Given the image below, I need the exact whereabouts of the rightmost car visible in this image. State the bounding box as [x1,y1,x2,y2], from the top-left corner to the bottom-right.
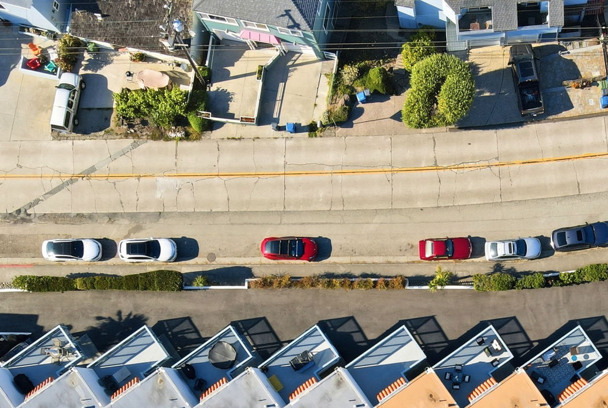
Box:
[551,221,608,253]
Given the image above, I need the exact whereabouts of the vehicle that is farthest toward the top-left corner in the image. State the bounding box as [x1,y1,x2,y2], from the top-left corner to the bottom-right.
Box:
[49,70,84,136]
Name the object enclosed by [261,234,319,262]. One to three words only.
car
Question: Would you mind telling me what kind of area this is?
residential area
